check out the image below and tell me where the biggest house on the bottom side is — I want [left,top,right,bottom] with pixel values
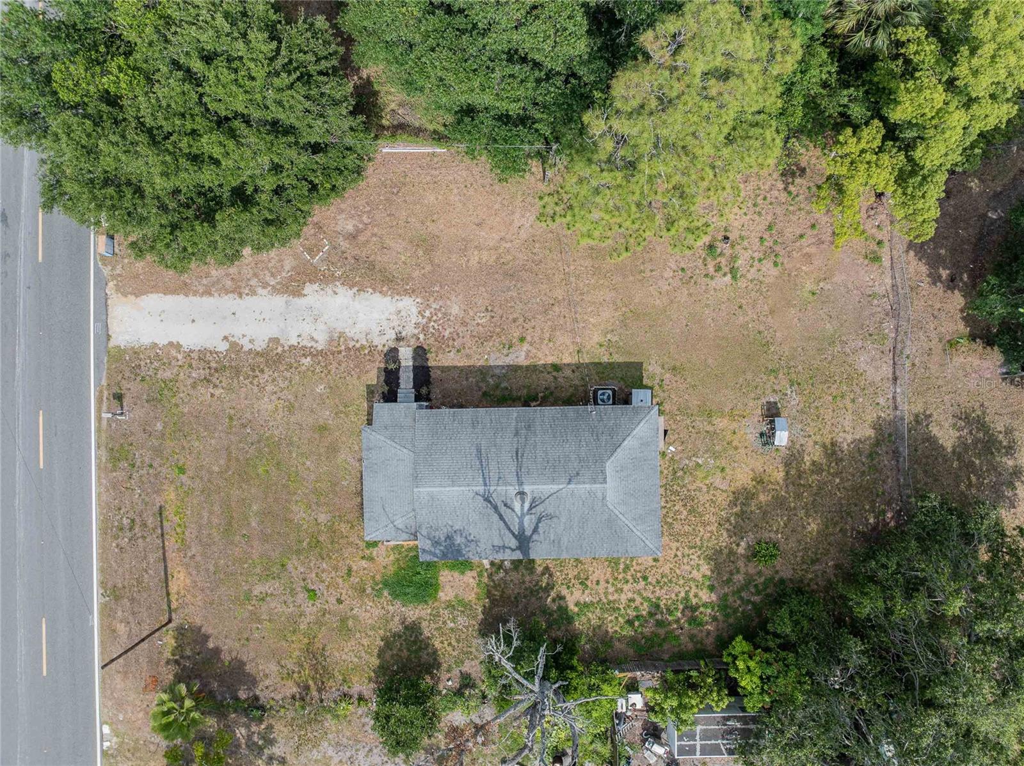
[360,401,664,562]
